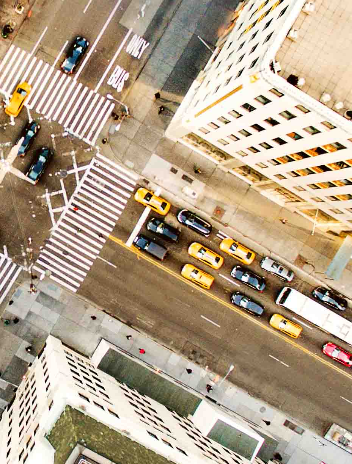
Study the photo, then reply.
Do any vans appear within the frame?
Yes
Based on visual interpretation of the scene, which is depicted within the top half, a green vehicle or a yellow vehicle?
yellow vehicle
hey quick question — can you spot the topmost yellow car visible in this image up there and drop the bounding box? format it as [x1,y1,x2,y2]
[5,79,31,119]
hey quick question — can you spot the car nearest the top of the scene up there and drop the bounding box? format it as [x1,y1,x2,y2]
[60,36,89,76]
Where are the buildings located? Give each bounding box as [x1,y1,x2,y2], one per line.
[0,334,285,464]
[162,0,352,279]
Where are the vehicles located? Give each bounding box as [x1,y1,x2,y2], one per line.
[258,255,295,284]
[132,187,173,217]
[309,285,350,314]
[144,215,182,244]
[186,241,226,271]
[228,265,269,294]
[218,237,258,267]
[60,36,89,76]
[5,79,31,119]
[268,283,352,349]
[130,233,172,263]
[178,261,218,291]
[266,311,305,341]
[26,146,54,187]
[175,209,214,238]
[228,289,269,319]
[320,340,352,369]
[14,119,43,160]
